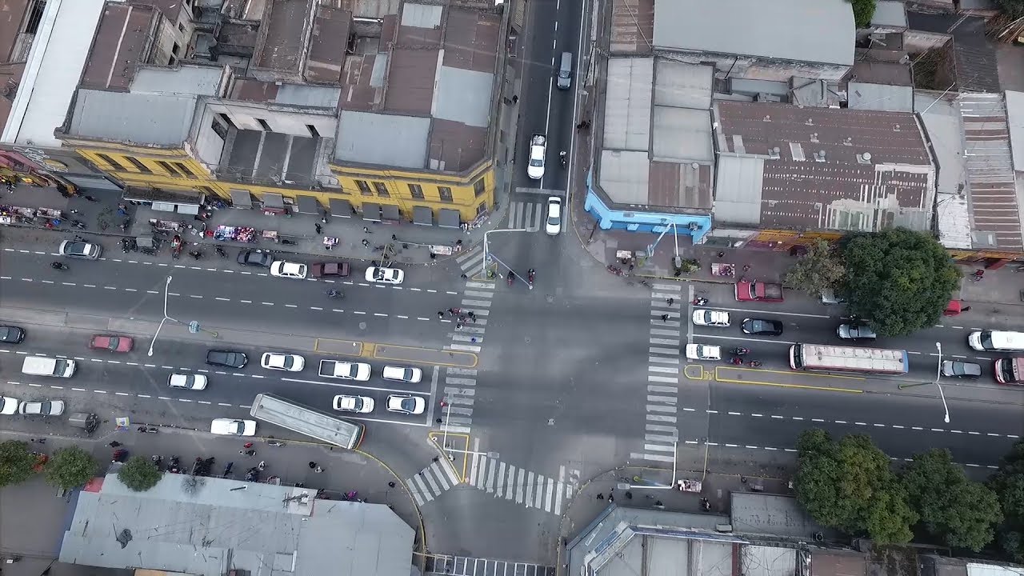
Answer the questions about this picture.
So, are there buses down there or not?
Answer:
Yes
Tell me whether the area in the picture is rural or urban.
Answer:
urban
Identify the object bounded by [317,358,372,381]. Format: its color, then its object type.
white truck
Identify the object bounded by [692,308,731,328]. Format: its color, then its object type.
white car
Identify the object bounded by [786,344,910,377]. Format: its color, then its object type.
white bus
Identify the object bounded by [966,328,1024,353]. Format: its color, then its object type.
white vehicle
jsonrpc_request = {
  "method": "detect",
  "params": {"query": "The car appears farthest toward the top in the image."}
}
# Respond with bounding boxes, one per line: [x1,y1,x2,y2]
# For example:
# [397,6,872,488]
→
[555,50,574,93]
